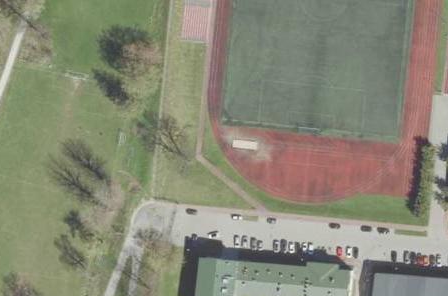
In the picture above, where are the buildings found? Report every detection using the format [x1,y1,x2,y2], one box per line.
[373,272,448,296]
[196,257,355,296]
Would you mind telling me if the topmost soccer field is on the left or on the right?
right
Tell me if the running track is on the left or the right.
right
